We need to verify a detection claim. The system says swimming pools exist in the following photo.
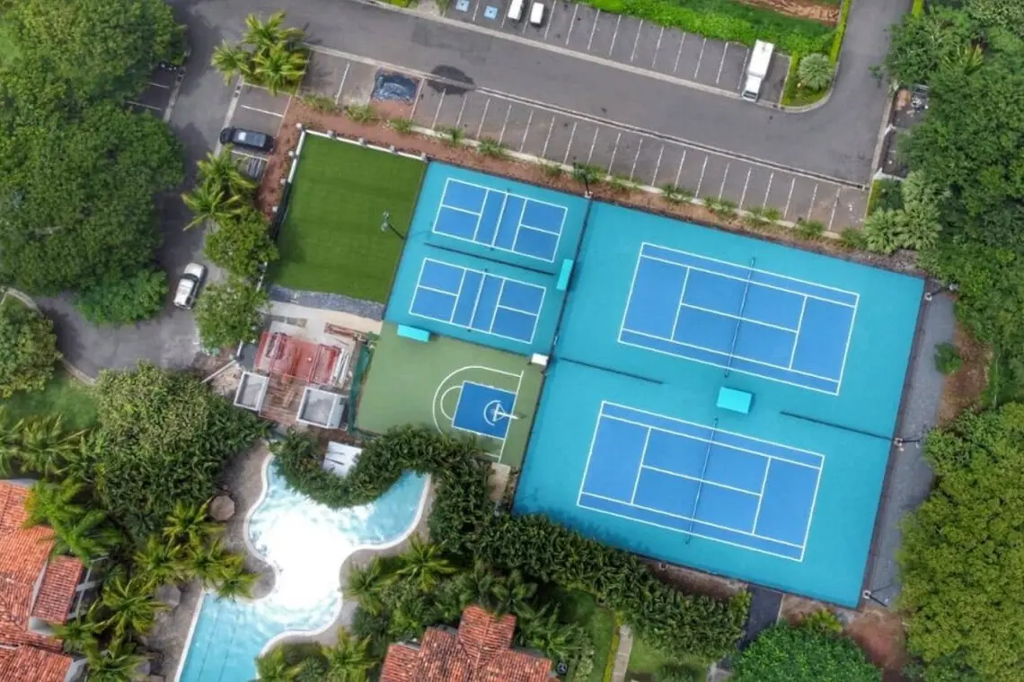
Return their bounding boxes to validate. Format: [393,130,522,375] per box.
[173,454,433,682]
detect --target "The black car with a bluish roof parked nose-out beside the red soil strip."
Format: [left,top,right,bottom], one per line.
[220,125,277,154]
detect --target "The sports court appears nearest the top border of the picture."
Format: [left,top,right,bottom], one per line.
[406,161,589,276]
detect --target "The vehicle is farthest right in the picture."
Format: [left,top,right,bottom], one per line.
[742,34,778,100]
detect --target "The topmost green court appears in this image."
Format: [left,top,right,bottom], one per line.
[356,321,551,470]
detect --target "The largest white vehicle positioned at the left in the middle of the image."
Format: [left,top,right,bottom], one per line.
[173,263,206,310]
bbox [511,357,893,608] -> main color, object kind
blue tennis court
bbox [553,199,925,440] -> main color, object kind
blue tennis court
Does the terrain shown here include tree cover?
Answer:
Yes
